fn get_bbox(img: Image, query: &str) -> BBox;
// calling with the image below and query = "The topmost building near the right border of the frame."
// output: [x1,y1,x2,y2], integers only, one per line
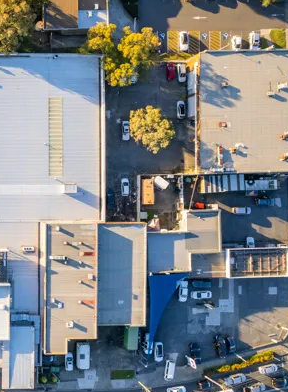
[190,50,288,172]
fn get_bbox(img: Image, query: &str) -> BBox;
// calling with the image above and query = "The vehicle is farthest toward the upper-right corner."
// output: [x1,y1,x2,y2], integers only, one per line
[247,33,260,50]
